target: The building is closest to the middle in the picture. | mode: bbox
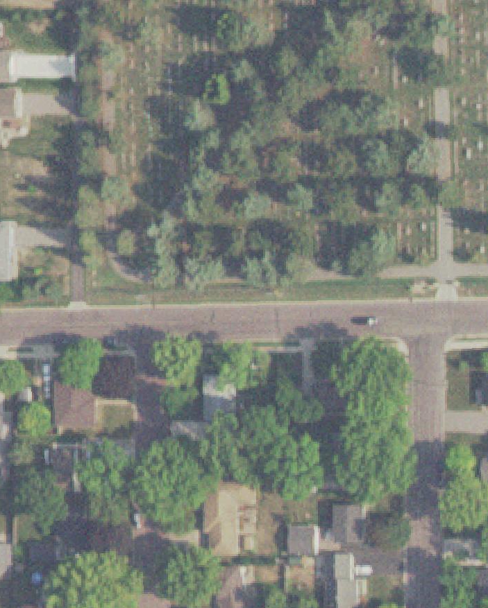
[203,376,242,419]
